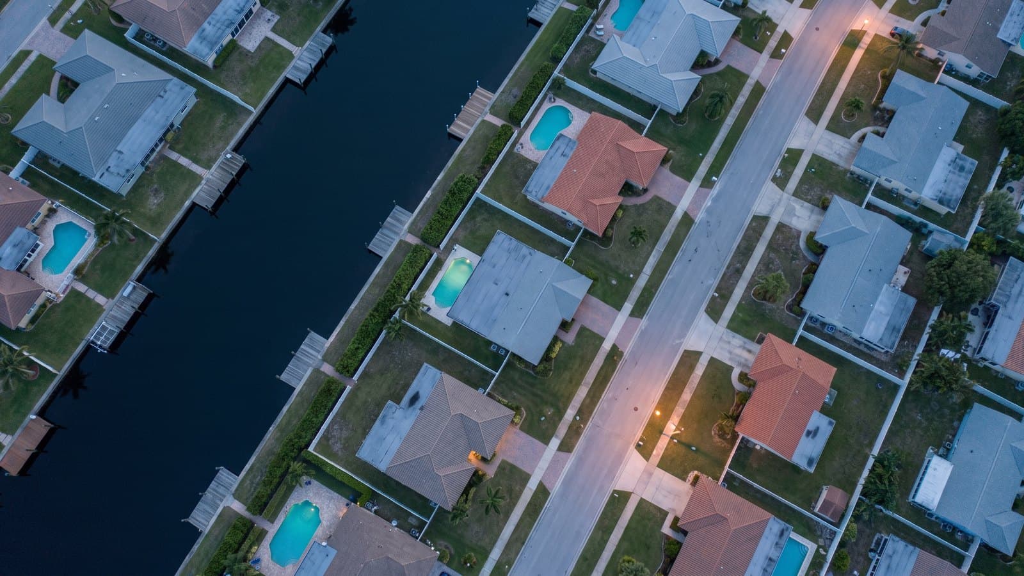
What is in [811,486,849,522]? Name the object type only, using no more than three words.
shed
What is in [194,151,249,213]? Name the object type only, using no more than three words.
pier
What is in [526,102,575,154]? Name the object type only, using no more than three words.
swimming pool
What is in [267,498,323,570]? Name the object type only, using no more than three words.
swimming pool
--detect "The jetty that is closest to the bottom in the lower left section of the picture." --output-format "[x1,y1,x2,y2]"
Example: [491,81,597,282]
[183,465,238,530]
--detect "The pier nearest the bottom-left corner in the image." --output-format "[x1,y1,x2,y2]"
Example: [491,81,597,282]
[0,415,62,476]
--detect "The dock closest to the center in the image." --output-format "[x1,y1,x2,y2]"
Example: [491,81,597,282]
[365,201,411,257]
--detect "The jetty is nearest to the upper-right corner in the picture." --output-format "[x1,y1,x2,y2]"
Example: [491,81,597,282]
[526,0,556,23]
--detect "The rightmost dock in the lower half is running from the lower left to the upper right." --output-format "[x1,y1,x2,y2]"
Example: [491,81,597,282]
[277,328,327,388]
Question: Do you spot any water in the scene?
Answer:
Yes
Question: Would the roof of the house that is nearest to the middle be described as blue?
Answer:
Yes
